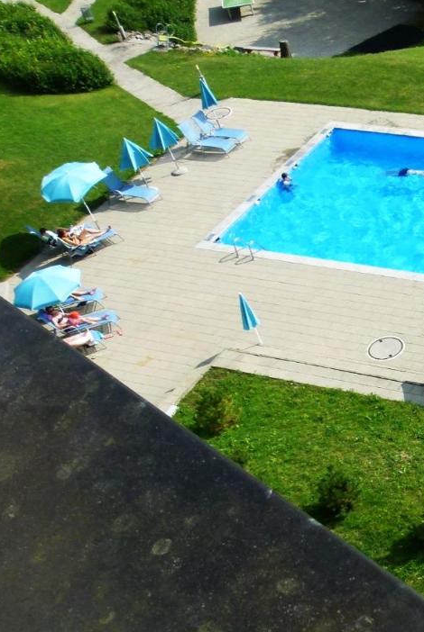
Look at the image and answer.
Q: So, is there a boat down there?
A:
No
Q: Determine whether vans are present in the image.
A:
No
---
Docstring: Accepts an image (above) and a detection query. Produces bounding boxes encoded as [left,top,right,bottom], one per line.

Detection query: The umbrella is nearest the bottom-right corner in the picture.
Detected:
[240,293,262,343]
